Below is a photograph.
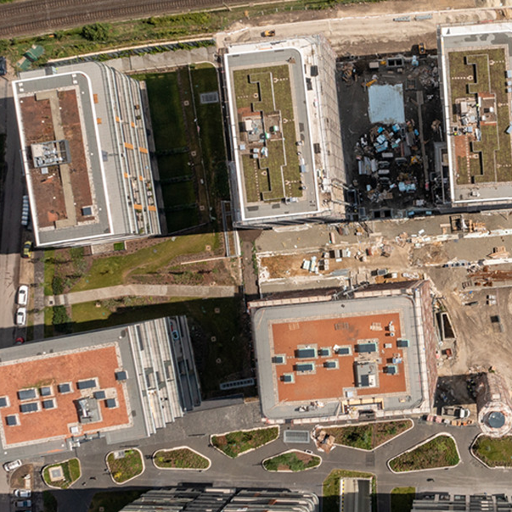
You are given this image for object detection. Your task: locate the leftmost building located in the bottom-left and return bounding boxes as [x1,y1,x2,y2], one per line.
[0,315,196,462]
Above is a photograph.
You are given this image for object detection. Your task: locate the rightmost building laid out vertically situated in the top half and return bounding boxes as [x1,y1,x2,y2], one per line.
[430,12,512,216]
